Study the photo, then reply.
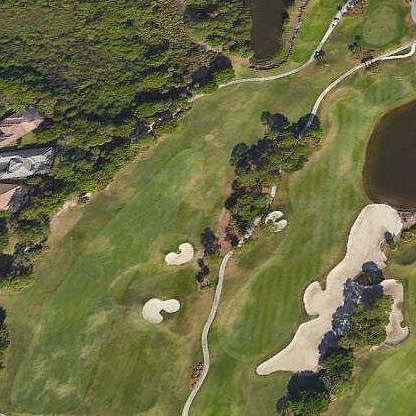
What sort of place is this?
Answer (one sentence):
The picture captures a golf course.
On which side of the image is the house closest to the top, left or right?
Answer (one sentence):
The house closest to the top is on the left side of the image.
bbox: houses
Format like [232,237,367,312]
[0,186,19,215]
[0,107,44,152]
[0,148,54,184]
